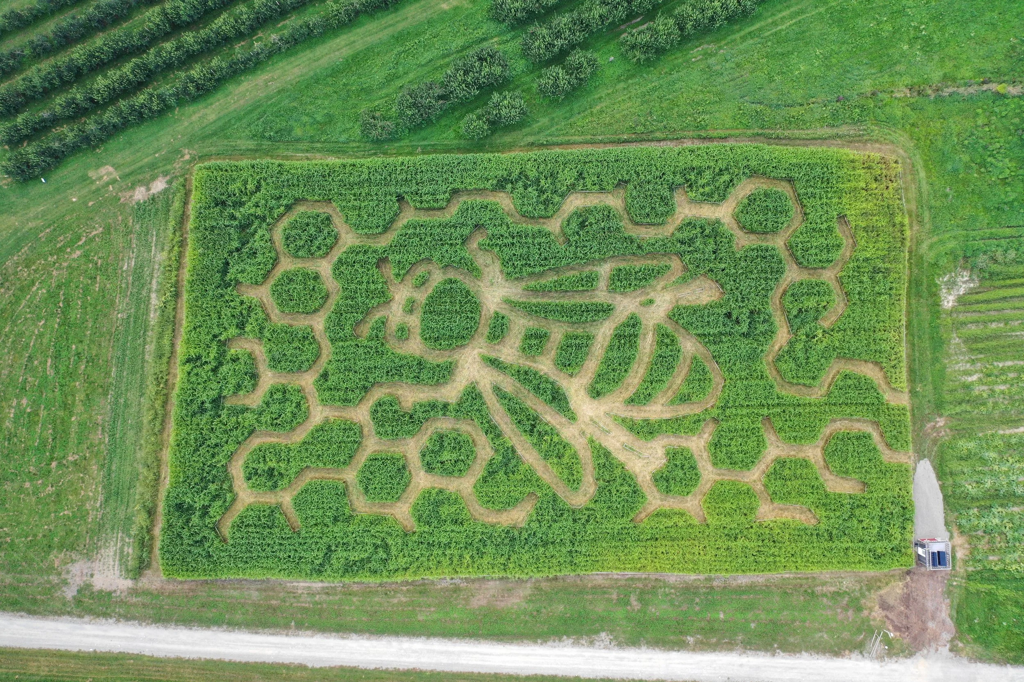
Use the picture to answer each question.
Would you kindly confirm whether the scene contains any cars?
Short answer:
No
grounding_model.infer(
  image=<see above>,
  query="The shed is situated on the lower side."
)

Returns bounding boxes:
[916,536,951,570]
